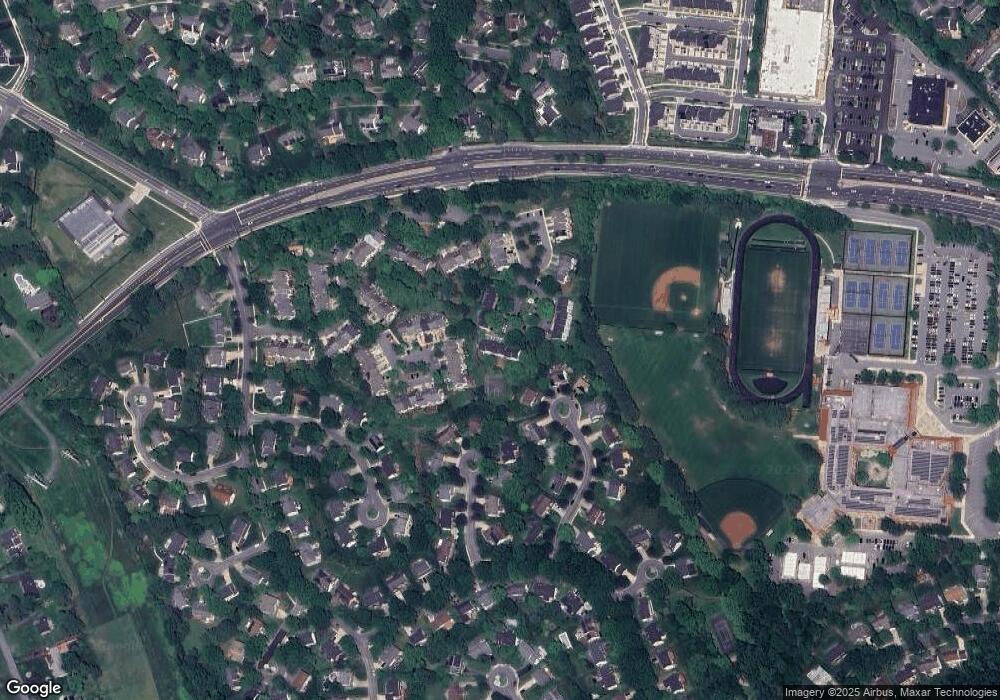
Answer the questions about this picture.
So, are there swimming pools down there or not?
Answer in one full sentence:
No, the scene contains no swimming pool.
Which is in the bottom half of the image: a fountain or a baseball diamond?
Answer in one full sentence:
Visible in the bottom half of the image is a baseball diamond.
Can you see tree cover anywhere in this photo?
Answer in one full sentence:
Yes, the picture does contain tree cover.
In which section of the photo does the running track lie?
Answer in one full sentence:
Look in the right portion of the view to spot the running track.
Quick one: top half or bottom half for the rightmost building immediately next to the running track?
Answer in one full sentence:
You can find the rightmost building immediately next to the running track in the bottom half.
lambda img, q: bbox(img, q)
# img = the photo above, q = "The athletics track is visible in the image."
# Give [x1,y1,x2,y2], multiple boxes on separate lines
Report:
[730,215,819,404]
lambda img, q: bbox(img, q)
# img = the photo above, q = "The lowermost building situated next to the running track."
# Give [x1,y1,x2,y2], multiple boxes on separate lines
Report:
[802,382,964,533]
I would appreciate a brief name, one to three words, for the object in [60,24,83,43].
house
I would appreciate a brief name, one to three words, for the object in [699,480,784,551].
baseball field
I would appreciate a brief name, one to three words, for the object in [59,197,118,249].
building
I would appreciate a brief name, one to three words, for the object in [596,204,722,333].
baseball field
